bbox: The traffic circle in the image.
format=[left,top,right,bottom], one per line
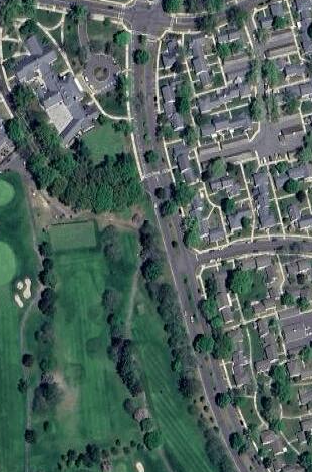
[83,56,120,94]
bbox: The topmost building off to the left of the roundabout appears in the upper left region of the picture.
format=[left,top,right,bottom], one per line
[18,53,62,102]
